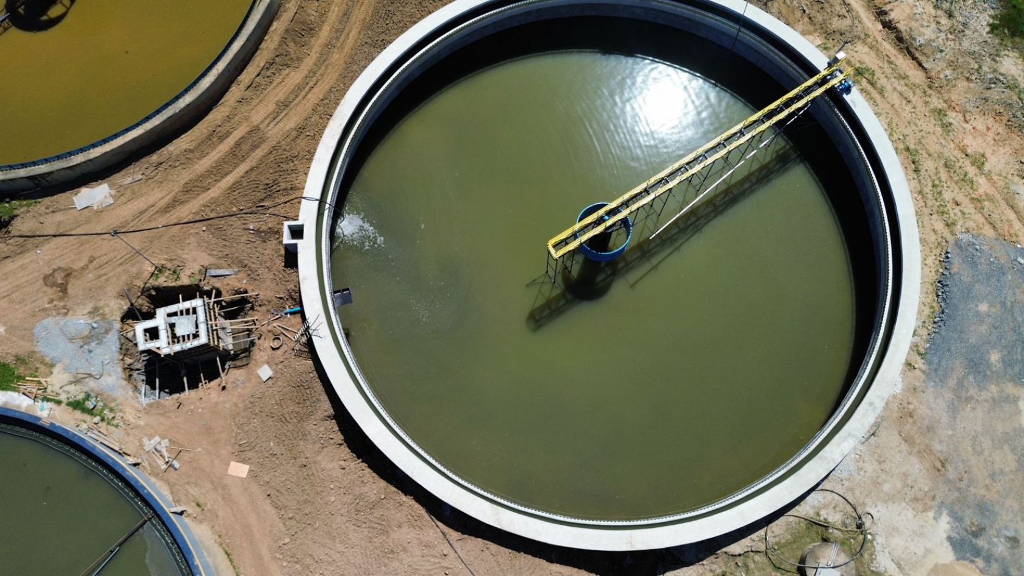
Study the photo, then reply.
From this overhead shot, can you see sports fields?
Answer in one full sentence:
No, the photo shows no sports field.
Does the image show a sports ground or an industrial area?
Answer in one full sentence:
The picture captures an industrial area.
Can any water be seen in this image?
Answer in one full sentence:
Yes, water can be seen from above here.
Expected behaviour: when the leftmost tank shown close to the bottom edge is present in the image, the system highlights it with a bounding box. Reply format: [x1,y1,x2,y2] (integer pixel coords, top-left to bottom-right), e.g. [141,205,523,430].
[0,403,217,576]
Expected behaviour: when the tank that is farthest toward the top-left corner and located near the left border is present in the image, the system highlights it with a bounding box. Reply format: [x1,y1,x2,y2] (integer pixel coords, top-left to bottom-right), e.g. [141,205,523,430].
[0,0,280,194]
